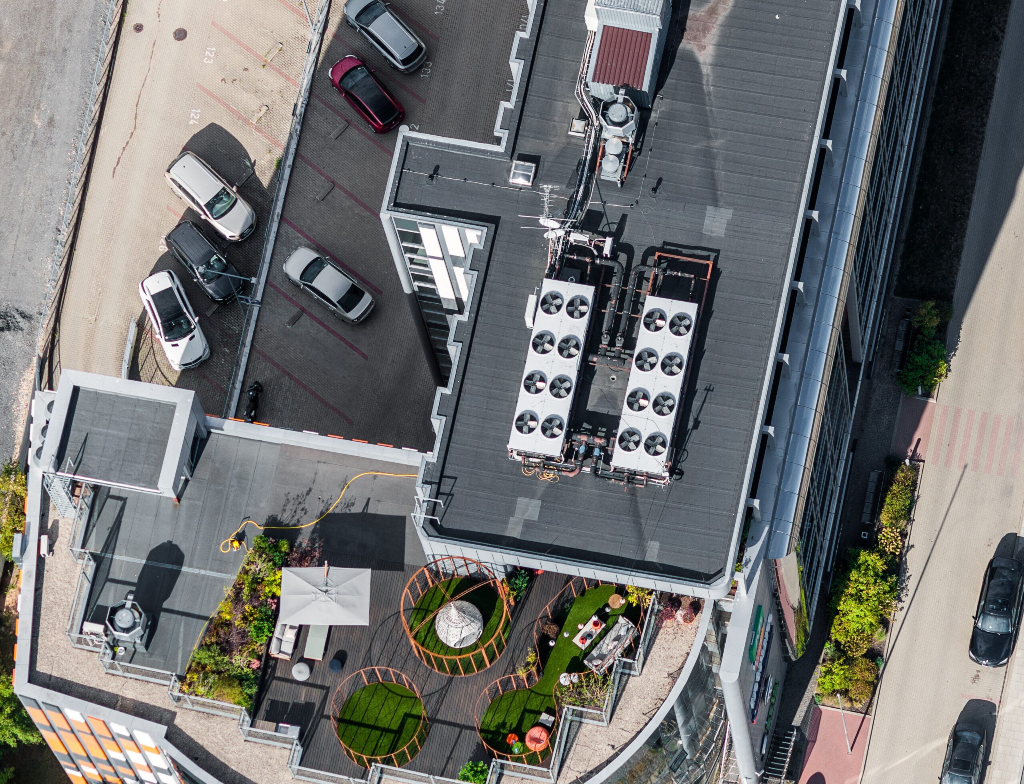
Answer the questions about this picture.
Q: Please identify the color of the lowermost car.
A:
black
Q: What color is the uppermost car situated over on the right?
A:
black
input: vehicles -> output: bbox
[280,248,377,326]
[161,151,252,247]
[969,557,1024,669]
[345,0,429,77]
[245,380,262,422]
[328,55,405,136]
[141,268,210,373]
[937,724,989,784]
[160,219,241,309]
